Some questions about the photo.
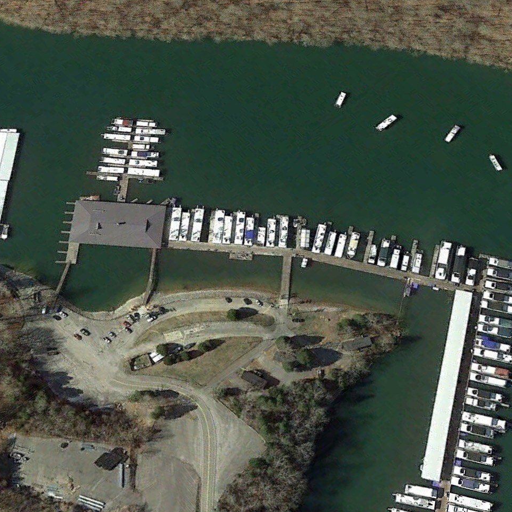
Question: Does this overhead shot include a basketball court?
No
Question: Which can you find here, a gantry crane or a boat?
boat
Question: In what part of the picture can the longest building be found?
left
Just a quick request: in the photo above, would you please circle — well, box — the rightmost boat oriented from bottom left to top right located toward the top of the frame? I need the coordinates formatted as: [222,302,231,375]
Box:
[445,124,461,143]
